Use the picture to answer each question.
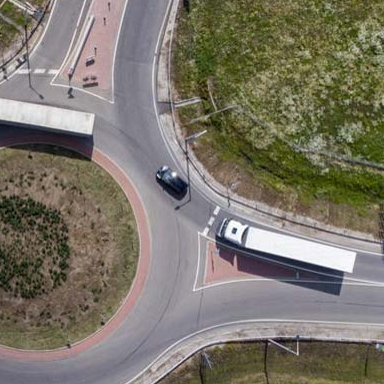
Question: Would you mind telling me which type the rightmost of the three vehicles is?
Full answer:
The rightmost of the three vehicles appears to be a truck.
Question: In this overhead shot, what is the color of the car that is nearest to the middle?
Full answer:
The car that is nearest to the middle is black.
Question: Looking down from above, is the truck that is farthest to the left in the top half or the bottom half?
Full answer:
The truck that is farthest to the left is in the top half of the image.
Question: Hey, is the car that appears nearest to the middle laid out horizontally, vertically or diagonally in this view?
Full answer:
The car that appears nearest to the middle is laid out diagonally.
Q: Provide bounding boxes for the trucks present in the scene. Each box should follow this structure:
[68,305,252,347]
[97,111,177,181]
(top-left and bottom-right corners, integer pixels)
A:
[0,99,97,138]
[214,217,358,272]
